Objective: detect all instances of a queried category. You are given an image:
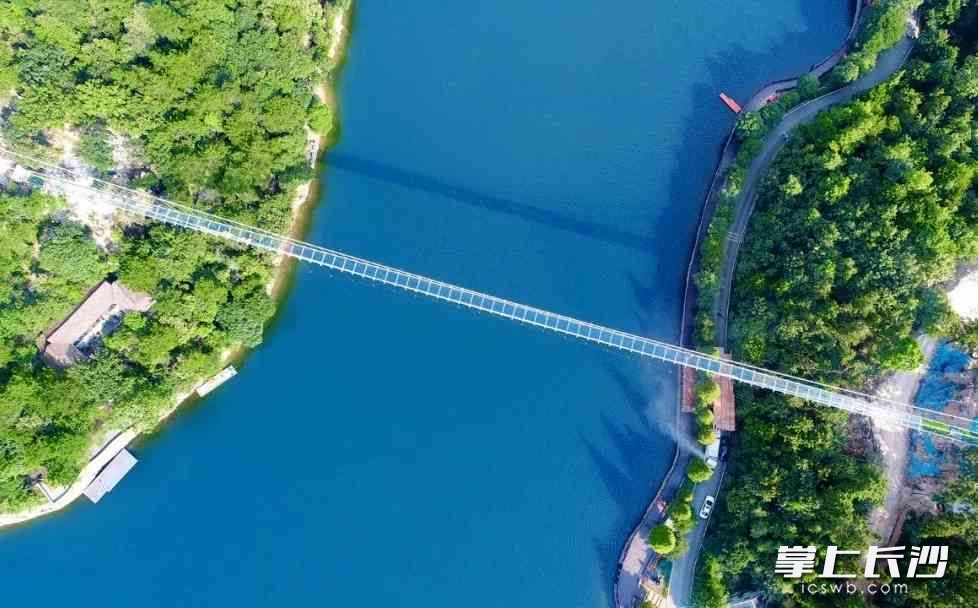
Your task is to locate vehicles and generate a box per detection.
[705,430,721,474]
[698,495,714,519]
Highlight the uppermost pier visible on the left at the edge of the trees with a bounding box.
[189,365,238,400]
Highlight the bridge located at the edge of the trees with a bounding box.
[0,144,978,443]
